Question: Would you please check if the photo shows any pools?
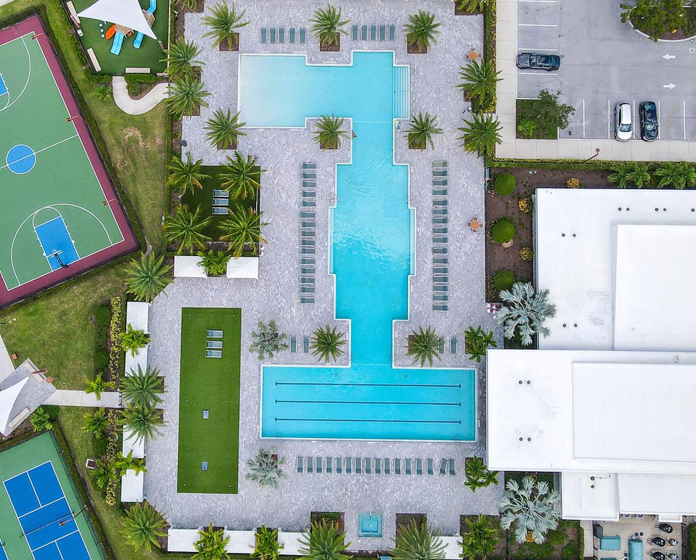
Yes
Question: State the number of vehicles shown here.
three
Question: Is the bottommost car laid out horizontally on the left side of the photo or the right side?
right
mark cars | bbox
[614,103,634,141]
[638,102,660,141]
[517,51,559,71]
